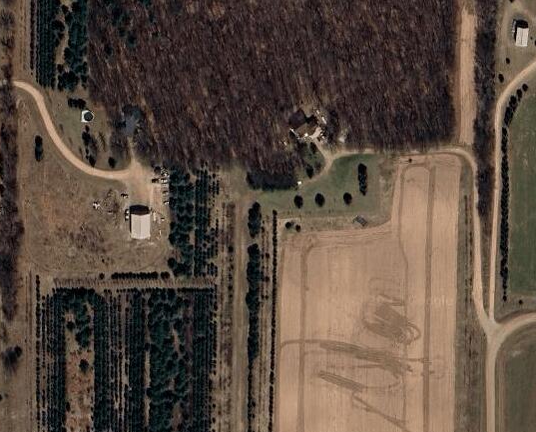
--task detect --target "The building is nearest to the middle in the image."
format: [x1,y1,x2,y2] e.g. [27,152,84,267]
[287,109,320,136]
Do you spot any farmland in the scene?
Yes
